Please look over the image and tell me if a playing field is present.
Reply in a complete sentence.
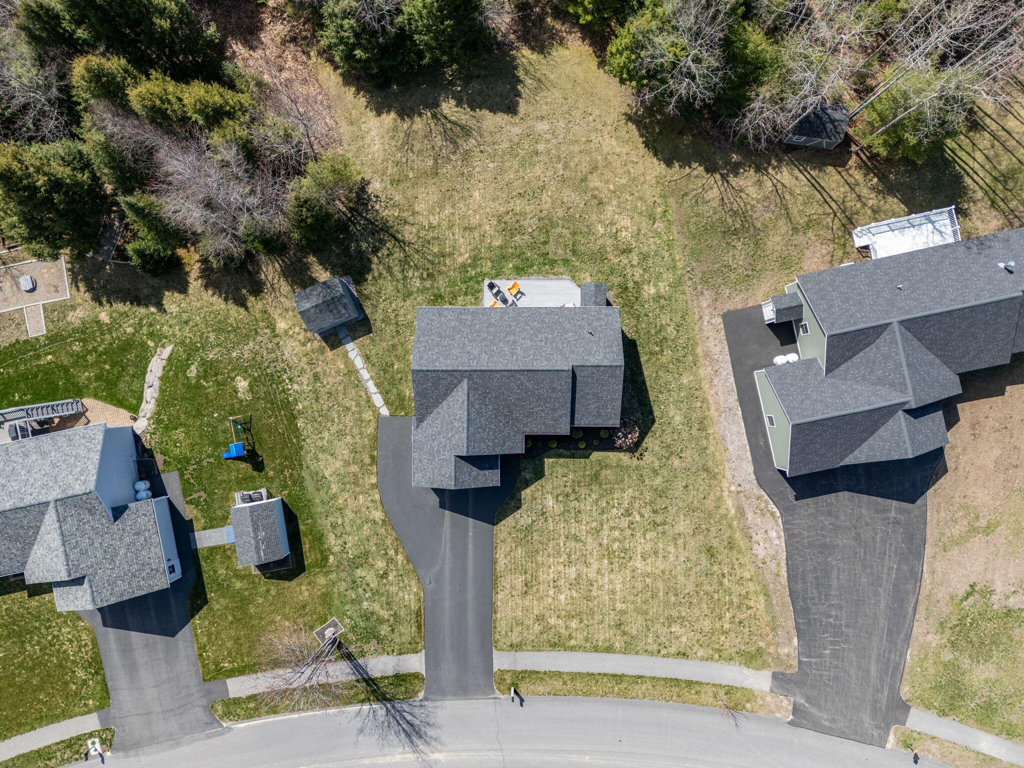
No, the picture doesn't show any playing field.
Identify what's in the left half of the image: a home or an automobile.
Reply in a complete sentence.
What appears in the left half of the image is a home.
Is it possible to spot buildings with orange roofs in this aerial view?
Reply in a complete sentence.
No, no building with an orange roof is visible in the view.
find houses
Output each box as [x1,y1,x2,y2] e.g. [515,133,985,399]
[755,228,1024,478]
[0,421,185,611]
[412,283,624,489]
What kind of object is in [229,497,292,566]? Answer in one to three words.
shed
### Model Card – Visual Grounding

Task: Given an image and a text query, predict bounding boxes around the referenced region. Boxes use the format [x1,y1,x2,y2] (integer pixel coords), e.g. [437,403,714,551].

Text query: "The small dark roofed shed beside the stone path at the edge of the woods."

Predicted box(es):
[294,277,358,332]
